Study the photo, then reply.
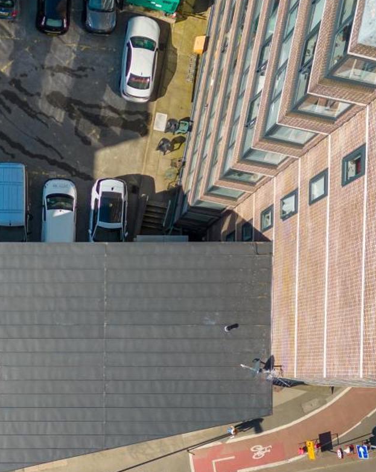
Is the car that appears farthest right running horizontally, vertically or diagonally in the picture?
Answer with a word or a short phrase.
vertically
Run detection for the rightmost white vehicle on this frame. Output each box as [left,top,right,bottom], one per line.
[119,16,163,107]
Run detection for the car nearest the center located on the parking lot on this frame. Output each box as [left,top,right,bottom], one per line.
[88,177,132,241]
